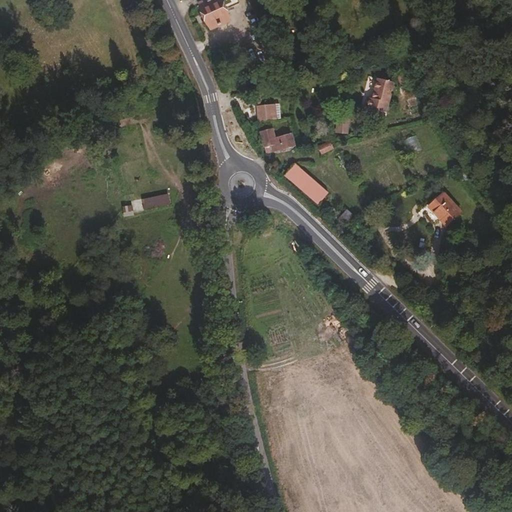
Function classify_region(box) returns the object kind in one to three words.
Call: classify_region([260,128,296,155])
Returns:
house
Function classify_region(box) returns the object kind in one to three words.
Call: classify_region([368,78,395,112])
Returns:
house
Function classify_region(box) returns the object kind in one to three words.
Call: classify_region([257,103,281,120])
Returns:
shed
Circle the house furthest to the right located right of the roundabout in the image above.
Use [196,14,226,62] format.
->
[428,192,462,227]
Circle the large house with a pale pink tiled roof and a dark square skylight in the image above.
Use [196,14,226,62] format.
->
[198,0,230,31]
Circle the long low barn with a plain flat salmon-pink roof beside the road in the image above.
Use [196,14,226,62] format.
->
[284,163,328,204]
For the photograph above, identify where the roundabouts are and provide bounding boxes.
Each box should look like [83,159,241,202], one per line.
[214,144,271,222]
